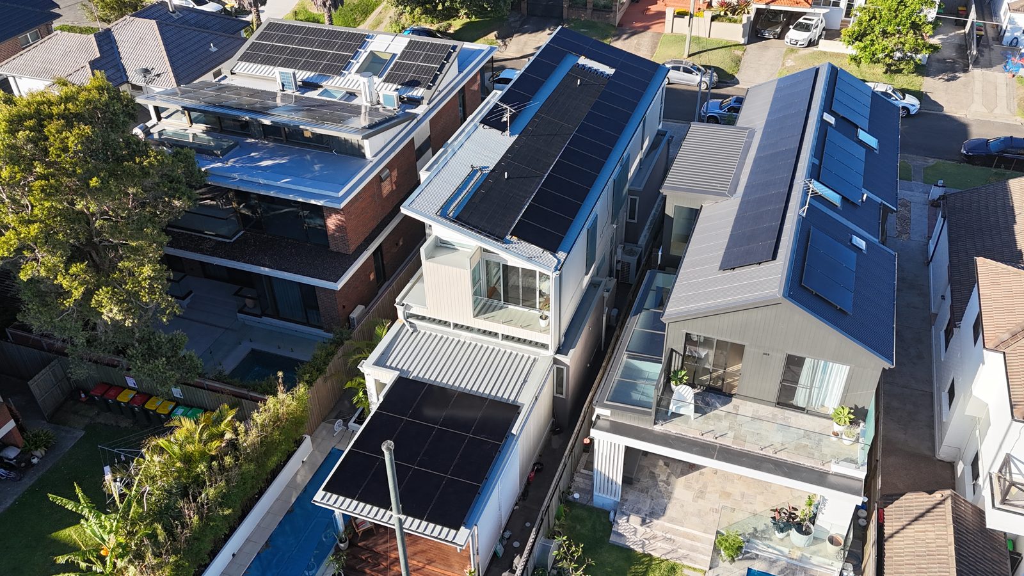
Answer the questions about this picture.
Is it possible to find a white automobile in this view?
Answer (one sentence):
Yes, there's a white automobile down there.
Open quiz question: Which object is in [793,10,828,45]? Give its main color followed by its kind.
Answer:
white car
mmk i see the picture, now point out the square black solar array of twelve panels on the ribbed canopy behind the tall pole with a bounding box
[328,371,520,524]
